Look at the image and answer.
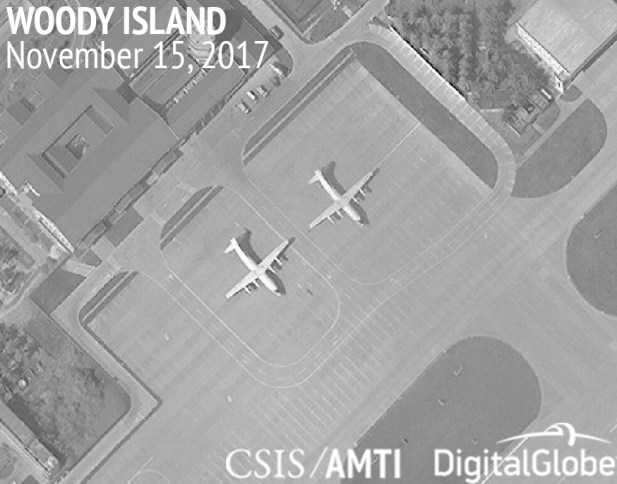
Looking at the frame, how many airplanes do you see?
2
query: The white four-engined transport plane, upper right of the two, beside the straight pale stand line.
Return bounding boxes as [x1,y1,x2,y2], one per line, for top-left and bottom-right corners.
[308,166,372,227]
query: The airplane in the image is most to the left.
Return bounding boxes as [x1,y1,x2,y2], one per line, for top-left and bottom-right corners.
[224,235,289,297]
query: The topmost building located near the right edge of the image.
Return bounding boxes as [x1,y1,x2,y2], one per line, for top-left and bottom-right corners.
[515,0,617,80]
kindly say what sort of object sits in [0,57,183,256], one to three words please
building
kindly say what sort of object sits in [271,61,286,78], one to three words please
vehicle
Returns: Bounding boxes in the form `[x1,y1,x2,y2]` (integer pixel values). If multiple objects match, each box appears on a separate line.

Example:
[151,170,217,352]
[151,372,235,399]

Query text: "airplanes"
[308,166,372,227]
[224,235,289,297]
